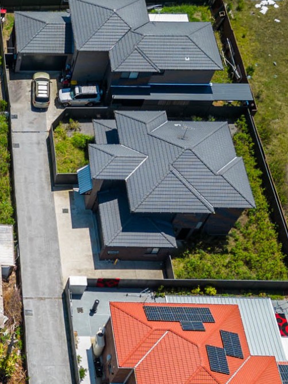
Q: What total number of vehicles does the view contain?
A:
2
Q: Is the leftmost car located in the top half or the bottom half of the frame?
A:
top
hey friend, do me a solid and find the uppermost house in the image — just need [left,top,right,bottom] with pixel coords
[13,0,226,102]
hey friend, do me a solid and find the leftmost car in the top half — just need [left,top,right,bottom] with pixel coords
[30,71,51,106]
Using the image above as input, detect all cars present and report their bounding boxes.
[59,82,106,107]
[30,71,51,106]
